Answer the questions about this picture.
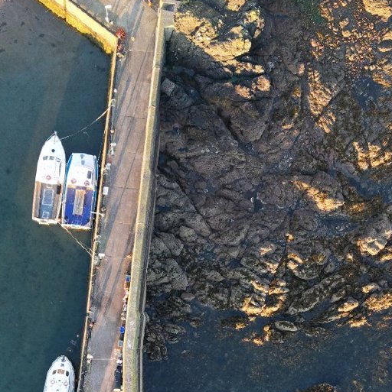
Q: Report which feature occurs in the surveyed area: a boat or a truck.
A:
boat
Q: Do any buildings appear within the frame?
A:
No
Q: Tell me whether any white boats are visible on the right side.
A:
No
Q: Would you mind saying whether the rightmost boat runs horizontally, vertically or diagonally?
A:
vertically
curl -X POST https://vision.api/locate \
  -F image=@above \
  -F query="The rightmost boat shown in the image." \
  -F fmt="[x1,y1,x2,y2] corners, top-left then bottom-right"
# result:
[61,152,96,229]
